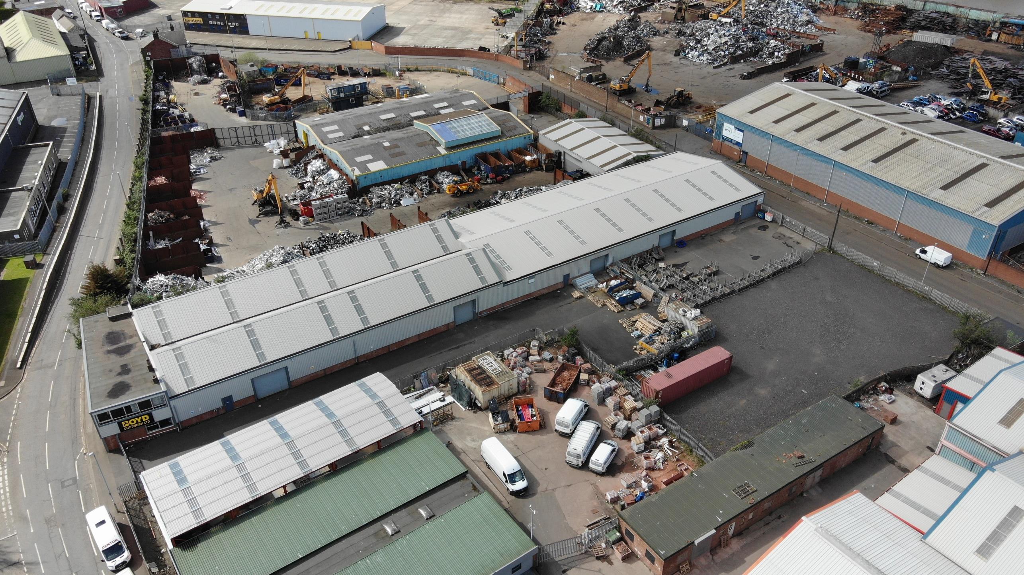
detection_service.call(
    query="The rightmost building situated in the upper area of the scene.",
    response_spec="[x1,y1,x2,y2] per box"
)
[712,81,1024,270]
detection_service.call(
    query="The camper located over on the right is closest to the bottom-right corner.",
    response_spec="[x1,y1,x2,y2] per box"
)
[917,360,964,400]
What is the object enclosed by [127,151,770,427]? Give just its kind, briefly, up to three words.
shed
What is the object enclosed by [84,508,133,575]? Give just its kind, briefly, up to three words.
van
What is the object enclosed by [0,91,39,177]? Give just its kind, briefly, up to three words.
building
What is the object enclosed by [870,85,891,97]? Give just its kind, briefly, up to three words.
vehicle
